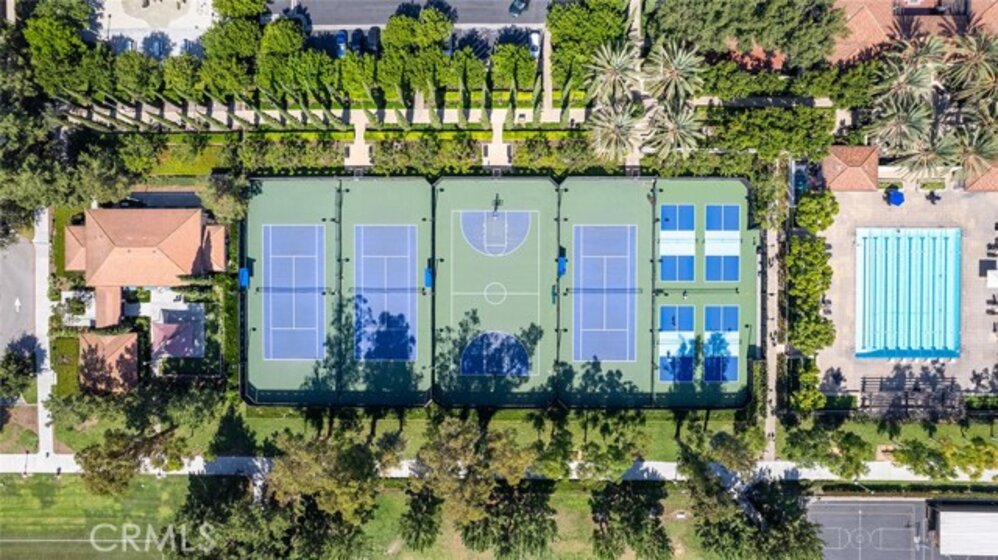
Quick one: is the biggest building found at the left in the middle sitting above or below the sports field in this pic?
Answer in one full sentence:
The biggest building found at the left in the middle is found above the sports field in the photo.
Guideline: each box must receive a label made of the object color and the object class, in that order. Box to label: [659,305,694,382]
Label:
blue sports court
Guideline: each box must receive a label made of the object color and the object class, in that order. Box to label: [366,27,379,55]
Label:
black vehicle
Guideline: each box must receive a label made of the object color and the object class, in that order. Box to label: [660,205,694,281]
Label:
blue sports court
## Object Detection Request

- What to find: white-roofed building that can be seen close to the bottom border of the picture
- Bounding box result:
[912,493,998,554]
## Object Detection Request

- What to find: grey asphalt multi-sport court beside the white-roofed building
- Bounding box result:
[806,497,926,560]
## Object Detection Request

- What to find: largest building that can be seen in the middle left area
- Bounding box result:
[64,208,229,328]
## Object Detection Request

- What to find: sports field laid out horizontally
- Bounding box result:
[0,476,205,560]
